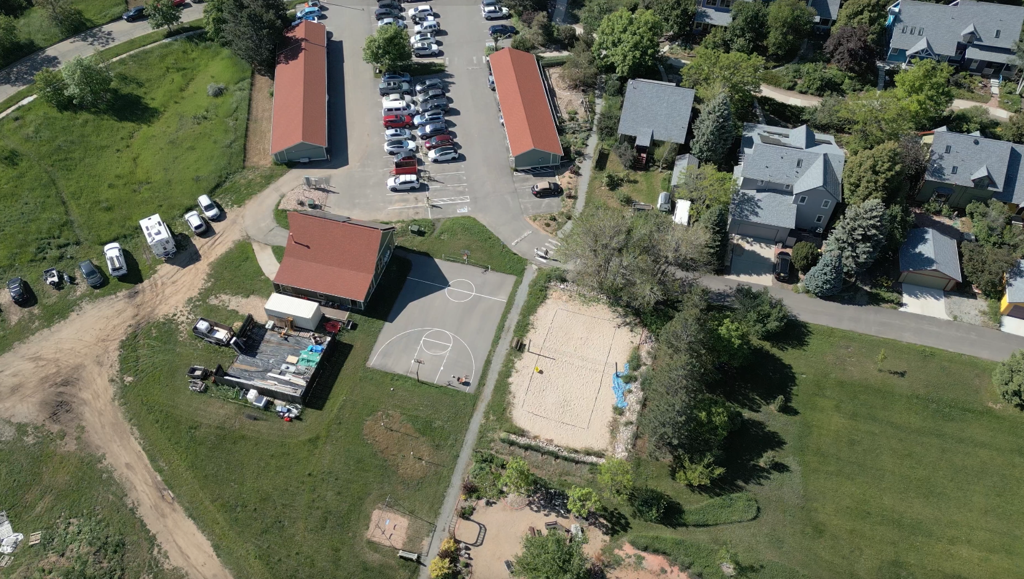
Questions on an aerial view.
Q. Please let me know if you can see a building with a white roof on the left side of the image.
No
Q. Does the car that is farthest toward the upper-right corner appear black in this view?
Yes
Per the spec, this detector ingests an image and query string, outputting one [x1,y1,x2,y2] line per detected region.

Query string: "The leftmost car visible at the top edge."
[121,7,147,24]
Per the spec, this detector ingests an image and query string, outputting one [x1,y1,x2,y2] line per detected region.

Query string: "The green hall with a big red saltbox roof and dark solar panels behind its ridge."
[271,209,398,324]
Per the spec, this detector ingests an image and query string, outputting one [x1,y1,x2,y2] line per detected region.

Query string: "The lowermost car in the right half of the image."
[772,252,793,284]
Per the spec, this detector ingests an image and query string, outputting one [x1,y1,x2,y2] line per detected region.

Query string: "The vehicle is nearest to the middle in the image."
[531,183,562,200]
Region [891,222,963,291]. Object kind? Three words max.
building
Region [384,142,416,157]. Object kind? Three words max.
car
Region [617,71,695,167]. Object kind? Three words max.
house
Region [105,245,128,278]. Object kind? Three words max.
truck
